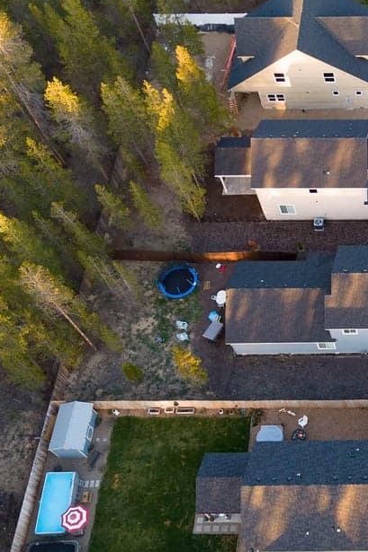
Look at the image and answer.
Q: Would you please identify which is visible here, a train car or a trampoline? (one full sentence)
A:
Of the two, only a trampoline appears.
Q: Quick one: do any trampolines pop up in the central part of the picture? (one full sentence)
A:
Yes, a trampoline appears in the central part of the picture.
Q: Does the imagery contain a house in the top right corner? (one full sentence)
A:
Yes, a house appears in the top right corner.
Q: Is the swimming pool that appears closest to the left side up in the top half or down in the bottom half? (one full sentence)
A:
The bottom half of the photo is where the swimming pool that appears closest to the left side is.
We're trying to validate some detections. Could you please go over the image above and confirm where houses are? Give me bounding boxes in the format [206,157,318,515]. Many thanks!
[193,439,368,552]
[228,0,368,108]
[212,120,368,219]
[224,245,368,354]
